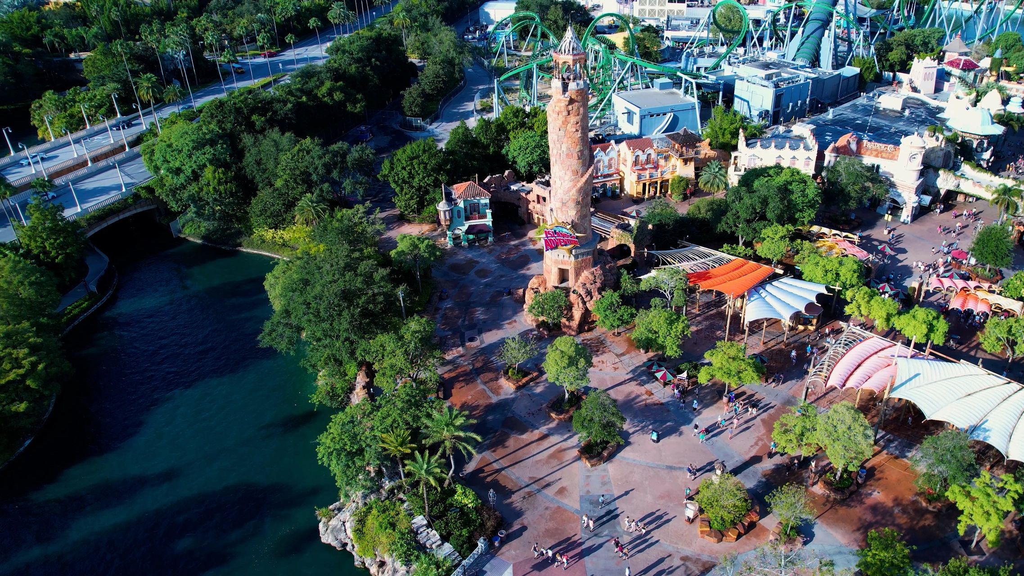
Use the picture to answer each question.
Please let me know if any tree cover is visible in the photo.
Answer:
Yes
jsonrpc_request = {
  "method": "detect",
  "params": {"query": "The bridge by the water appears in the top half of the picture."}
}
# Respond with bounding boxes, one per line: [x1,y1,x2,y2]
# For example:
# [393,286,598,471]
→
[0,107,274,249]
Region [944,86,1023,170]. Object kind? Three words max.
building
